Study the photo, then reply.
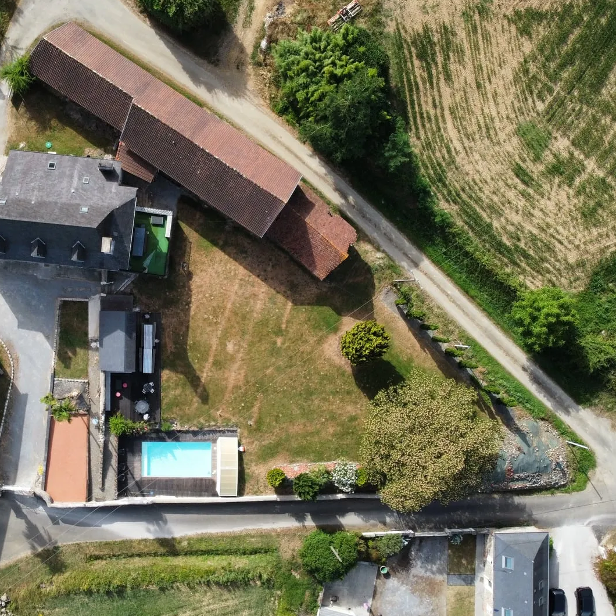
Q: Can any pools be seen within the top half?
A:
No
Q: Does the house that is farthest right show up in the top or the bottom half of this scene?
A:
bottom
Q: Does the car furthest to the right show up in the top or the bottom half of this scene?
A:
bottom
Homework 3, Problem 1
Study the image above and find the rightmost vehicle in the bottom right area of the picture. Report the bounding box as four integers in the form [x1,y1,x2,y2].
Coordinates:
[573,585,596,616]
